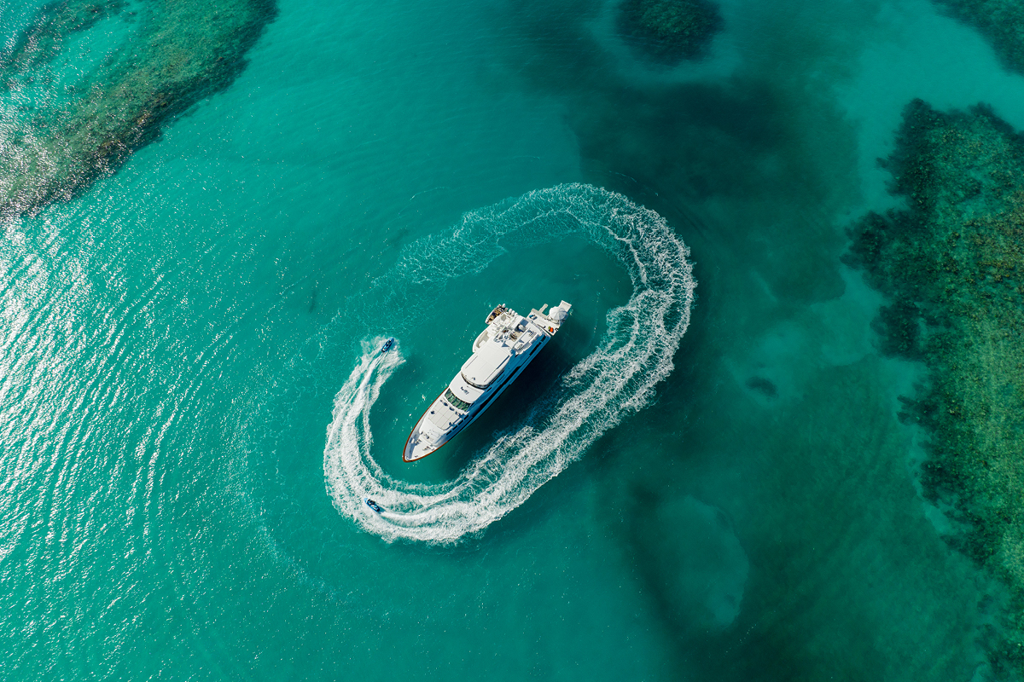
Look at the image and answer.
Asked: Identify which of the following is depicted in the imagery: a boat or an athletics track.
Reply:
boat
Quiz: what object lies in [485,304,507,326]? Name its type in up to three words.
boat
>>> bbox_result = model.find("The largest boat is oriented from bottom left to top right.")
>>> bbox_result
[402,304,558,467]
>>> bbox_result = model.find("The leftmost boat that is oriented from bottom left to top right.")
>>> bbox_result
[379,336,394,353]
